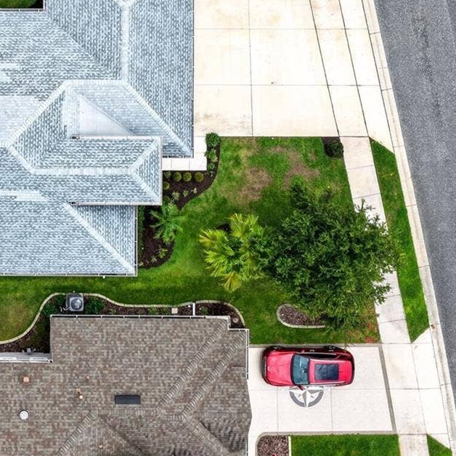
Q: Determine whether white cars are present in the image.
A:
No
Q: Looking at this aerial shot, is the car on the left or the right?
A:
right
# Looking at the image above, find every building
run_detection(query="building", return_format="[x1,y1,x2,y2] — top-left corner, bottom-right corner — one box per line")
[0,0,197,278]
[0,302,252,456]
